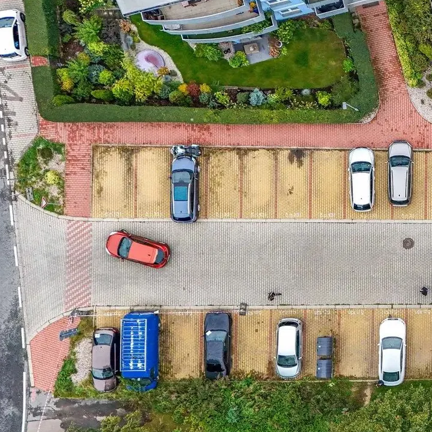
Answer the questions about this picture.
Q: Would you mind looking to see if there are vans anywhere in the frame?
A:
Yes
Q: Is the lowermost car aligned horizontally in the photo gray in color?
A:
No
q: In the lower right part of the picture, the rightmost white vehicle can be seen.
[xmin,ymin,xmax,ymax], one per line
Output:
[375,316,408,386]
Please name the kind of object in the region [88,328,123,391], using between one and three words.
car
